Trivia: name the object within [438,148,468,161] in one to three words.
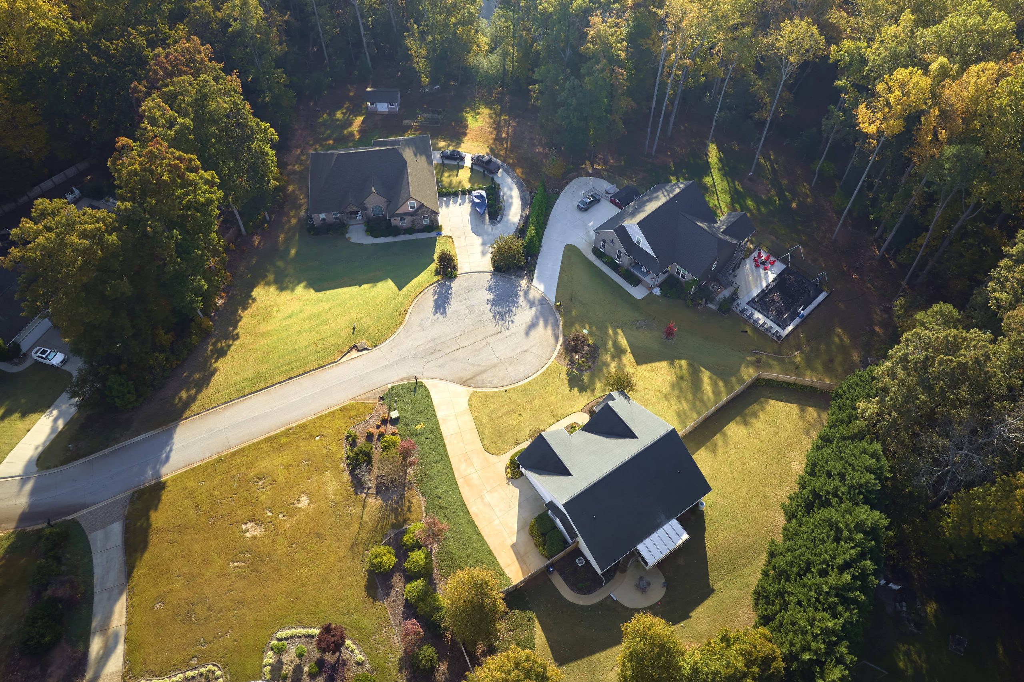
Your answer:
vehicle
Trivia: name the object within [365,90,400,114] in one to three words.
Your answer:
shed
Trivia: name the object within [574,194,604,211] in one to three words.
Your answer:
car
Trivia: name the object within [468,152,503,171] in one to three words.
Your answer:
vehicle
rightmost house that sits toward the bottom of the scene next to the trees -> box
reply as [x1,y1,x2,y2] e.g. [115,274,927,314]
[513,389,711,595]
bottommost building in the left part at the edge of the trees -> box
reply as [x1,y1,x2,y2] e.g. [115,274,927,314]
[0,284,53,358]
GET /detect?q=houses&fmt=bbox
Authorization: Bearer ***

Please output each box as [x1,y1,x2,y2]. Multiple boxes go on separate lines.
[513,389,711,595]
[306,134,439,227]
[593,179,758,291]
[0,284,53,358]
